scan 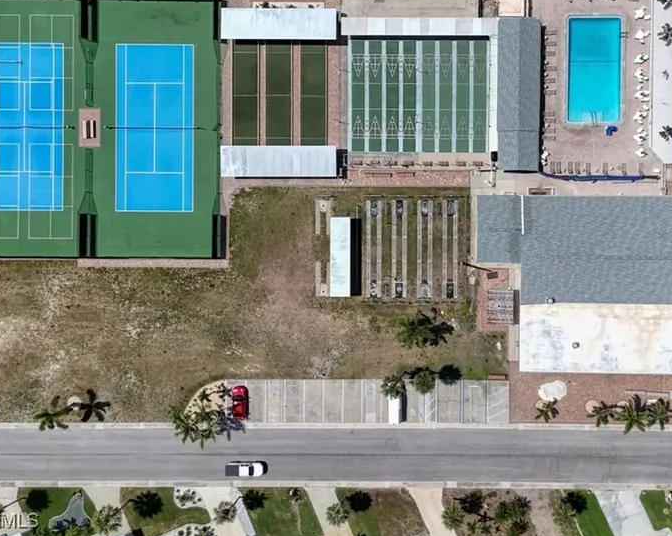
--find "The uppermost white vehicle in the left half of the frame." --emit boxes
[225,461,266,479]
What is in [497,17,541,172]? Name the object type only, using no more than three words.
building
